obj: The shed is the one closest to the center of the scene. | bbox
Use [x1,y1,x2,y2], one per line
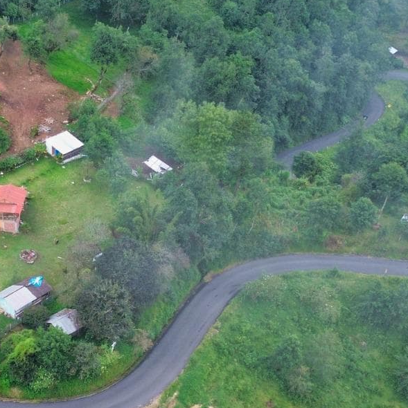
[143,156,172,180]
